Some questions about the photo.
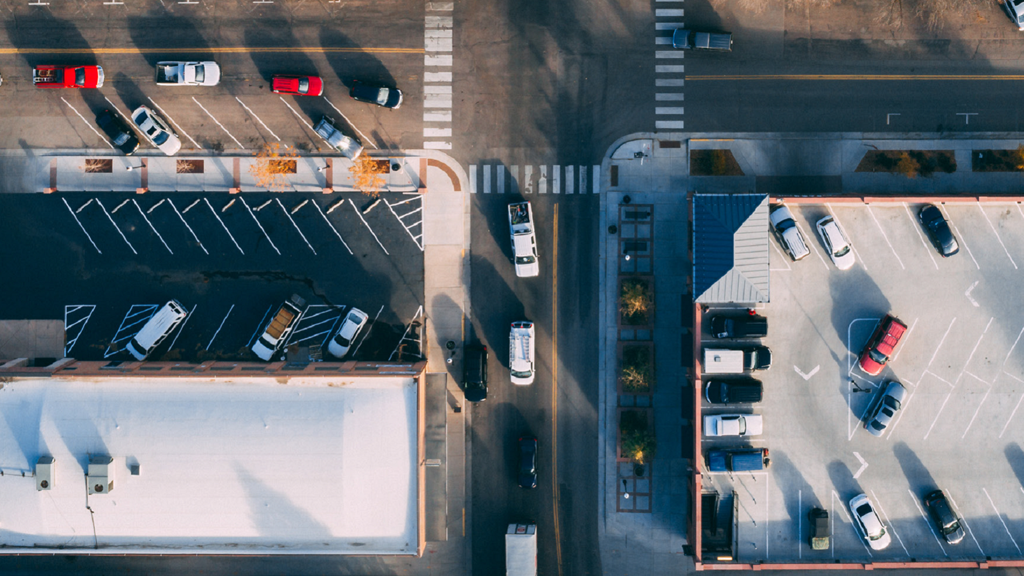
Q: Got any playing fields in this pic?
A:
No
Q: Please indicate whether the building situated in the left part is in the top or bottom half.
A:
bottom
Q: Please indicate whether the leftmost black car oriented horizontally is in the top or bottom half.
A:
top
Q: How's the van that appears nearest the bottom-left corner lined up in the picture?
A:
at an angle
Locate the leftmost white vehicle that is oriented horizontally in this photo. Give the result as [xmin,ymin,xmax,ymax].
[154,59,222,87]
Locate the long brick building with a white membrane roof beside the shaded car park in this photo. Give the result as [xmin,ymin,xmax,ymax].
[0,355,448,555]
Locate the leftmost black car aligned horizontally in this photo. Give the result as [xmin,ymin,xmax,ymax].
[348,79,403,110]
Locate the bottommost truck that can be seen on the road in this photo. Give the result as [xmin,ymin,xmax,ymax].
[506,522,536,576]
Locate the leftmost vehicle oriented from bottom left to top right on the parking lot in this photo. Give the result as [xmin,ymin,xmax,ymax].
[126,297,188,361]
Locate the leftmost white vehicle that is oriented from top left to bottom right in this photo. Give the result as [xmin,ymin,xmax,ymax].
[130,105,182,158]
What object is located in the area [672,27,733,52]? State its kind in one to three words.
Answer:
truck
